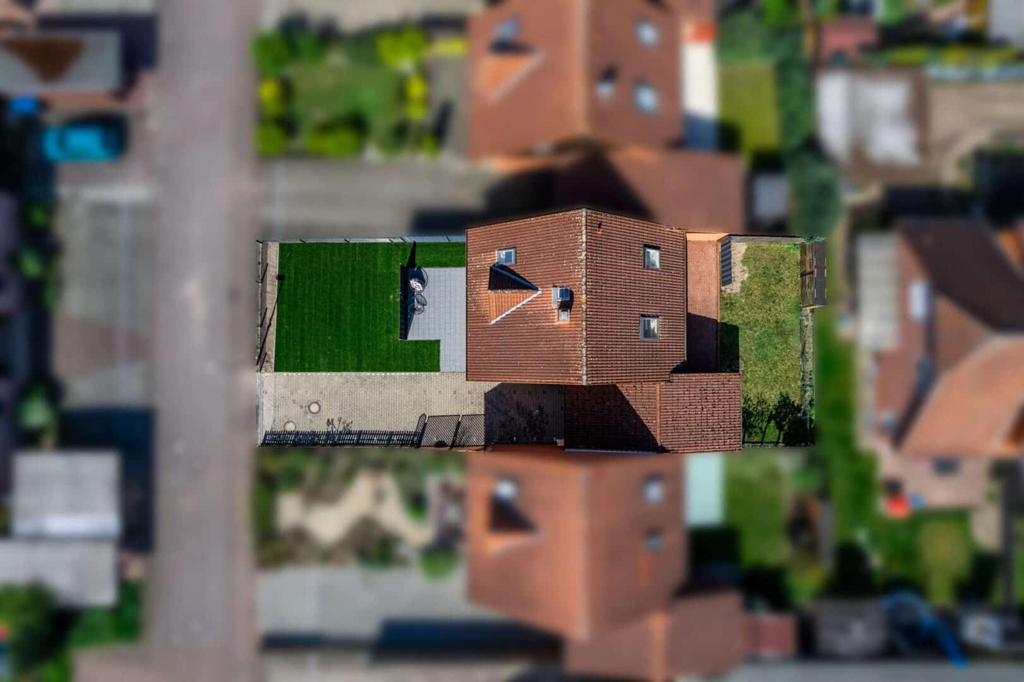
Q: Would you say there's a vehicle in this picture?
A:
Yes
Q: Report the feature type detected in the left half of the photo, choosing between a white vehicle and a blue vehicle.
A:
blue vehicle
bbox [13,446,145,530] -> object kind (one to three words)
building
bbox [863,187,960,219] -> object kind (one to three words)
shed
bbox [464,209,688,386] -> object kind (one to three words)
house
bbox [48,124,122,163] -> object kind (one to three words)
car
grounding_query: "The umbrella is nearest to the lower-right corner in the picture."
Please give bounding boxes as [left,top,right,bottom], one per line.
[880,491,911,517]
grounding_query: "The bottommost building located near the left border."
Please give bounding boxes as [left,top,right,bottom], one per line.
[0,531,138,602]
